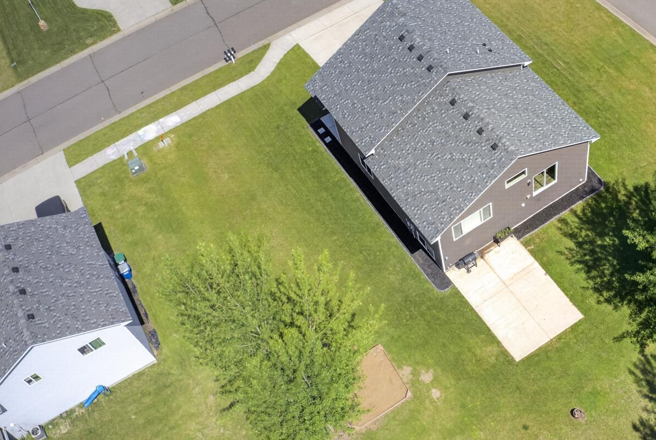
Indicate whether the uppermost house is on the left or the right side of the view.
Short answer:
right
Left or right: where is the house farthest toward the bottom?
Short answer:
left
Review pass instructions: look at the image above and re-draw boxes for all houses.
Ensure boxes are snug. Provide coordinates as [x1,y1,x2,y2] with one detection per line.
[306,0,598,273]
[0,207,156,429]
